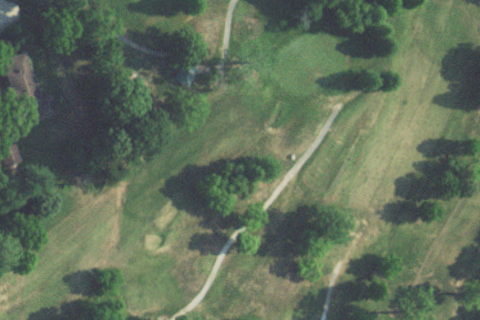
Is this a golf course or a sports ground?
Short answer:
golf course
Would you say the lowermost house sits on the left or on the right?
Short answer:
left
